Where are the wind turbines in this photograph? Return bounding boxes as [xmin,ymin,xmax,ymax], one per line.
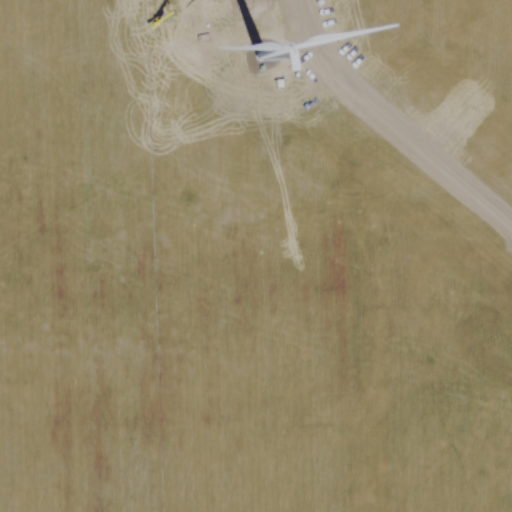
[220,24,399,71]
